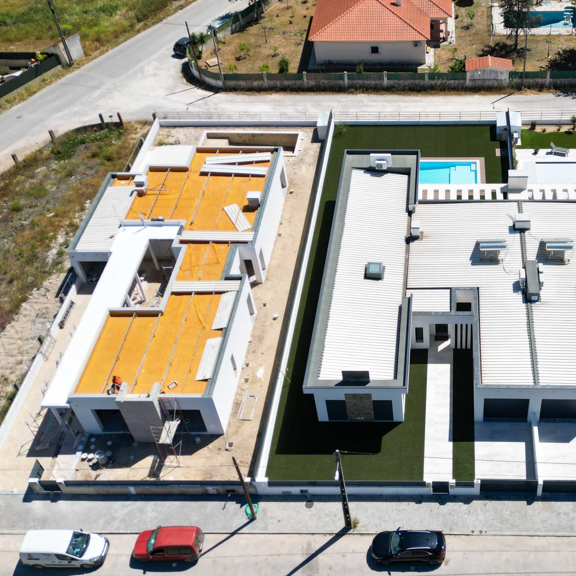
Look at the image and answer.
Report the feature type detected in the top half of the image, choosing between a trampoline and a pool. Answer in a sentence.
It is a pool that can be seen in the top half of the image.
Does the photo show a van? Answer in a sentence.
Yes, a van is visible in the scene.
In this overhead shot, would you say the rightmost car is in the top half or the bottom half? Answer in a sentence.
You can find the rightmost car in the bottom half.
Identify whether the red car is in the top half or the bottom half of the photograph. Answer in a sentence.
It is in the bottom half that the red car appears.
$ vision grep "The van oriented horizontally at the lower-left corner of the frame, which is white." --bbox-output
[12,523,111,568]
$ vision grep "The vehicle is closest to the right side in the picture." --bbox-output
[369,527,447,572]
